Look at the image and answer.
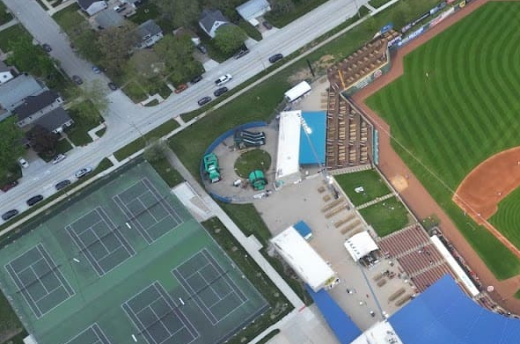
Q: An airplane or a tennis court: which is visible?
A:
tennis court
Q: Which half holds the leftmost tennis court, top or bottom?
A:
bottom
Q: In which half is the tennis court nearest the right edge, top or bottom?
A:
bottom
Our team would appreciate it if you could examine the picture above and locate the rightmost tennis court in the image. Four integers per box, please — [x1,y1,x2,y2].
[172,248,247,324]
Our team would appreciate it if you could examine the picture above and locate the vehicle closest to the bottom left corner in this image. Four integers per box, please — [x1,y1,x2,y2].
[1,208,19,220]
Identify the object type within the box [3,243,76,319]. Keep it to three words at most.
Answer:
tennis court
